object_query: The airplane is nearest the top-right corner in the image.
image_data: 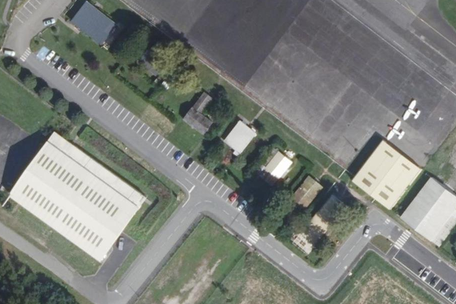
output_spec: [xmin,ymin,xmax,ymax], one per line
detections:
[404,100,420,120]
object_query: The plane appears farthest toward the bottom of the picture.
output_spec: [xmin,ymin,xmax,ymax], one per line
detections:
[388,120,404,140]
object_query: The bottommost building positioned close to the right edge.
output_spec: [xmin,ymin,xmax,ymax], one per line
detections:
[400,177,456,246]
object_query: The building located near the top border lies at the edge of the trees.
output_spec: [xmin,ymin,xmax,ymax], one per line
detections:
[71,1,115,45]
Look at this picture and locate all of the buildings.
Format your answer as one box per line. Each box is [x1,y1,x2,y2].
[10,132,146,261]
[294,175,323,206]
[293,232,312,254]
[184,92,213,135]
[264,152,293,178]
[224,120,256,154]
[311,194,346,232]
[71,1,115,45]
[400,177,456,246]
[352,140,422,210]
